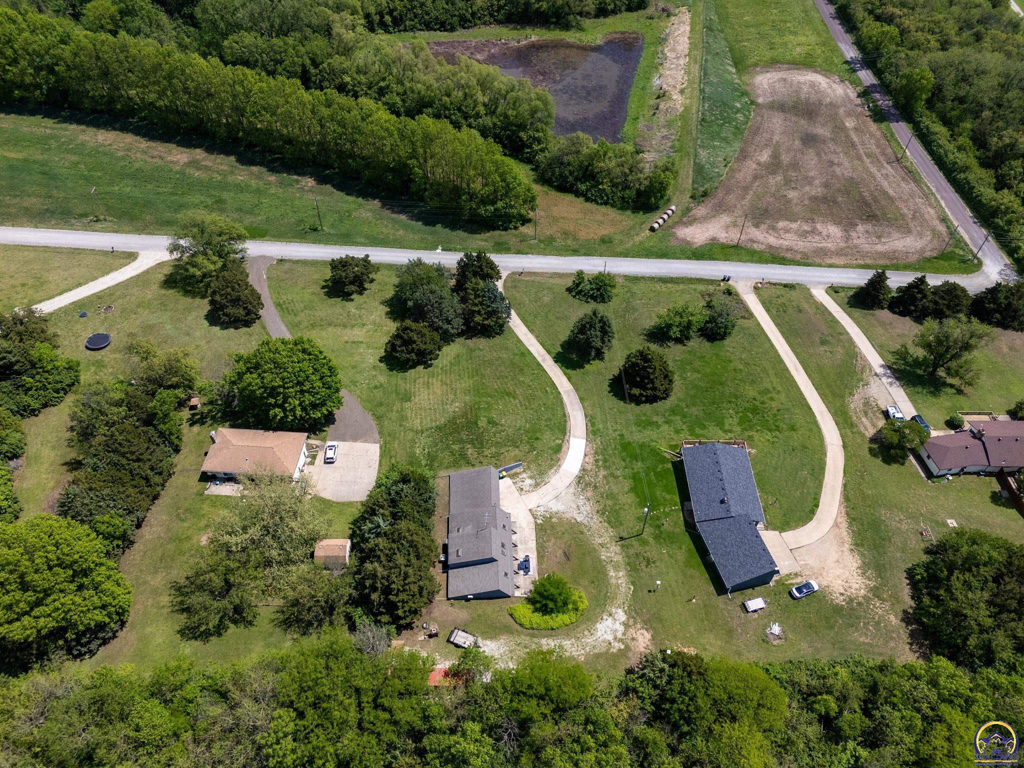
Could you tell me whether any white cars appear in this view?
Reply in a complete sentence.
Yes, I can see a white car in this picture.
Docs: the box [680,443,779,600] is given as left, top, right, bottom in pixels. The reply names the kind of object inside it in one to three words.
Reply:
house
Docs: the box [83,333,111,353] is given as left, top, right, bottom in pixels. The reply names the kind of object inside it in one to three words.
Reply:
trampoline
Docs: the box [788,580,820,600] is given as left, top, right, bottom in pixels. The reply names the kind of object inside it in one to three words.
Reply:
car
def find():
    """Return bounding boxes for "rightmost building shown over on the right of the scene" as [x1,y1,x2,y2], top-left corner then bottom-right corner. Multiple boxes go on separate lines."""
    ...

[922,420,1024,478]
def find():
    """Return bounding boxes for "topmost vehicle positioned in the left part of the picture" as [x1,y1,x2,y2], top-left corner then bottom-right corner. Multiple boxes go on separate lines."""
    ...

[322,441,338,464]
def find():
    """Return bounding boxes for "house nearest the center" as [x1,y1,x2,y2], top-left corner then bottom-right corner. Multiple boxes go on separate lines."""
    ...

[431,465,521,601]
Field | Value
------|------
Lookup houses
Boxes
[680,443,779,600]
[922,420,1024,478]
[431,465,521,601]
[201,427,308,485]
